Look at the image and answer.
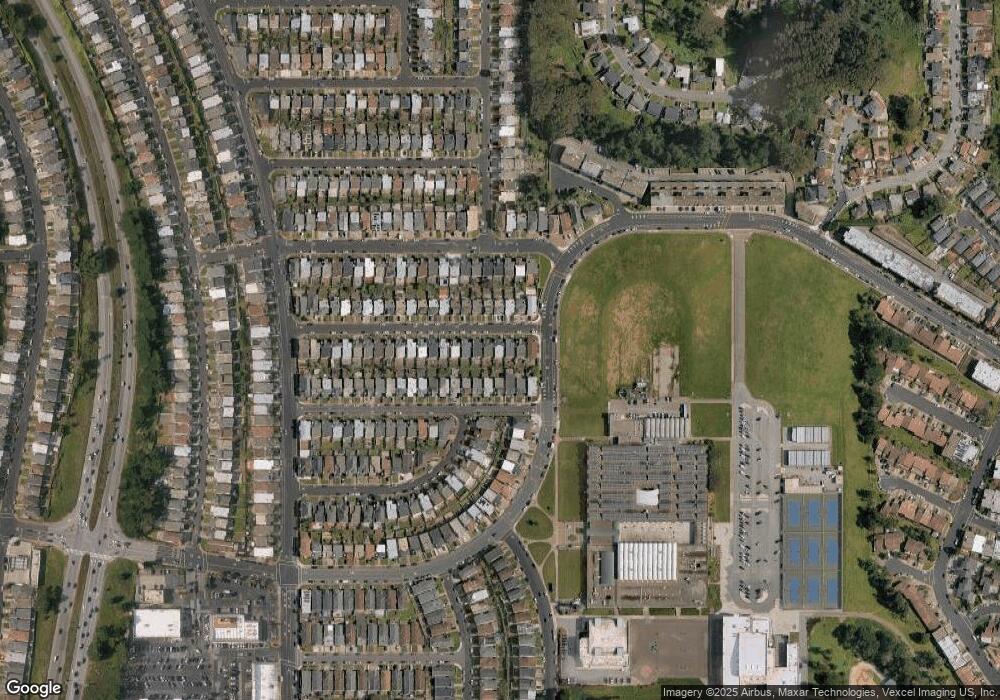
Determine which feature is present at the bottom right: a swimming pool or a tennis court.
tennis court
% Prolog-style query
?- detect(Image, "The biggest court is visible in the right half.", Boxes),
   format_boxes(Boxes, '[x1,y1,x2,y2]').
[631,618,707,684]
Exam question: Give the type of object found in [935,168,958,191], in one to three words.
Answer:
house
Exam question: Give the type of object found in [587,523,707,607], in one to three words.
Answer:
building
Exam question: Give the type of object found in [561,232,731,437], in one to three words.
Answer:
sports field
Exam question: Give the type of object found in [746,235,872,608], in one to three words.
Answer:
sports field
